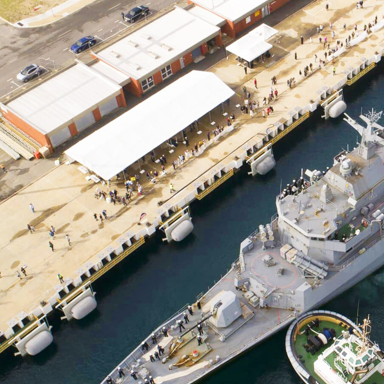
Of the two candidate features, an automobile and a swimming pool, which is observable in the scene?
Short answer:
automobile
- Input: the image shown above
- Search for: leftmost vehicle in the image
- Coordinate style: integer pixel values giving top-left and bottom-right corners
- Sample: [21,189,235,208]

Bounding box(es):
[13,63,40,82]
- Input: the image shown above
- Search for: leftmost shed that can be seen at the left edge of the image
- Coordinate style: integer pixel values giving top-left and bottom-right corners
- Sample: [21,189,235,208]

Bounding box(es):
[0,57,128,154]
